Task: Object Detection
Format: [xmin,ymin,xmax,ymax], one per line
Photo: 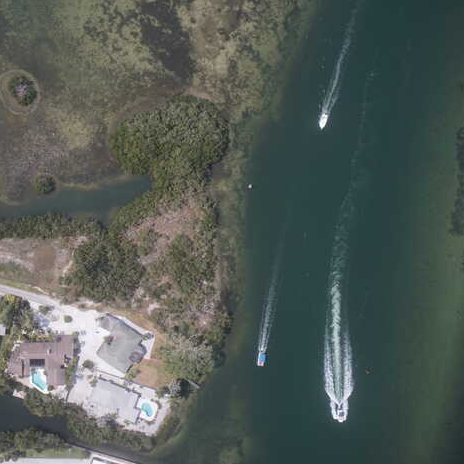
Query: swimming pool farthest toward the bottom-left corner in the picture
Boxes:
[32,370,47,391]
